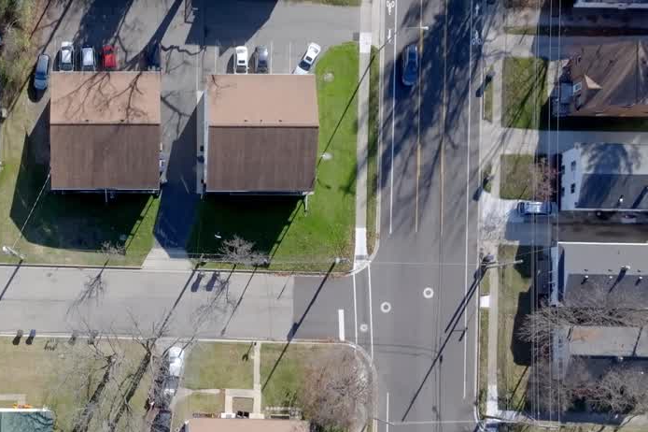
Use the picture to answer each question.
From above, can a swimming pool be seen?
No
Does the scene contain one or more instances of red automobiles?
Yes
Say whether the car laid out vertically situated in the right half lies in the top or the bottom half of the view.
top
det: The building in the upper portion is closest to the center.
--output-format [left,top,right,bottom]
[204,74,322,203]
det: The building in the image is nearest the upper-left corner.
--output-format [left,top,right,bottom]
[48,71,161,202]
